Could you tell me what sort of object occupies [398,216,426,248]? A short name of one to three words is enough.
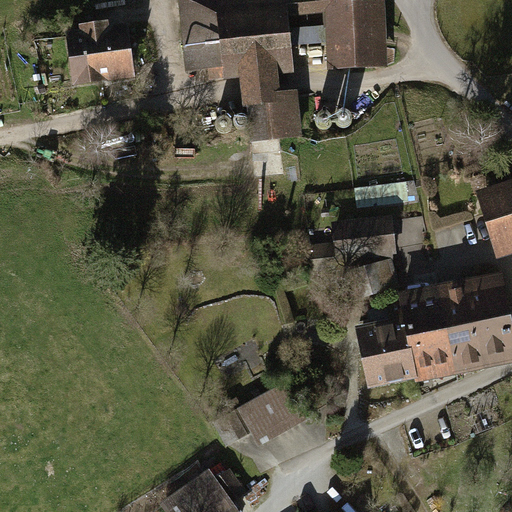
building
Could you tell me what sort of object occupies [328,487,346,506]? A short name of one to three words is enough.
vehicle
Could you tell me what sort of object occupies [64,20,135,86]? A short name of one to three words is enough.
house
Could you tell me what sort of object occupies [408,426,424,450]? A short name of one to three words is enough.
car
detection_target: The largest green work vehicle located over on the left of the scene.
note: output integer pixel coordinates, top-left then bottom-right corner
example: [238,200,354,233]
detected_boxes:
[36,146,56,160]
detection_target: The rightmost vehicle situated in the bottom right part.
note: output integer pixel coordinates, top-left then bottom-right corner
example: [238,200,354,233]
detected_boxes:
[437,416,451,440]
